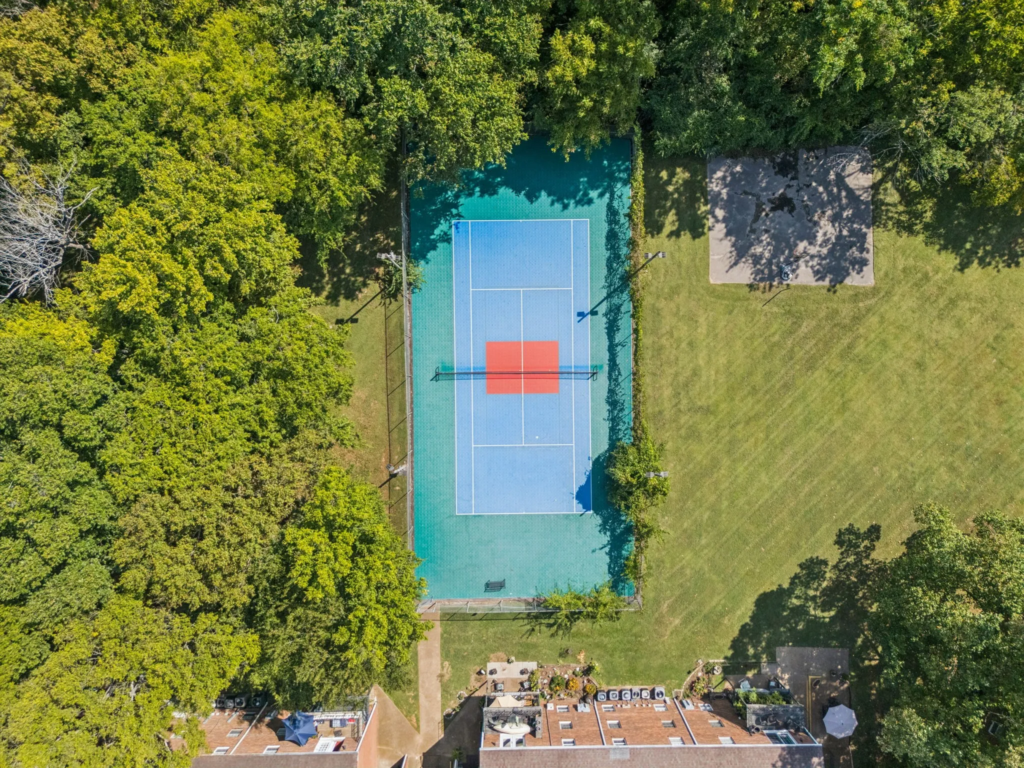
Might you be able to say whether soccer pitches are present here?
No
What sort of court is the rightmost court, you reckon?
basketball court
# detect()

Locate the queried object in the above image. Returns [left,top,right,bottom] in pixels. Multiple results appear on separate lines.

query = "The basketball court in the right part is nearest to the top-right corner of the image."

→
[707,145,875,285]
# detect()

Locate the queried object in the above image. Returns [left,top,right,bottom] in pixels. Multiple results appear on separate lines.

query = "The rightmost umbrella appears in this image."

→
[823,704,858,739]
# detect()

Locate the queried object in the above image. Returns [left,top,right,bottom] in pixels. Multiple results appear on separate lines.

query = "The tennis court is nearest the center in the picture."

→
[409,139,635,600]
